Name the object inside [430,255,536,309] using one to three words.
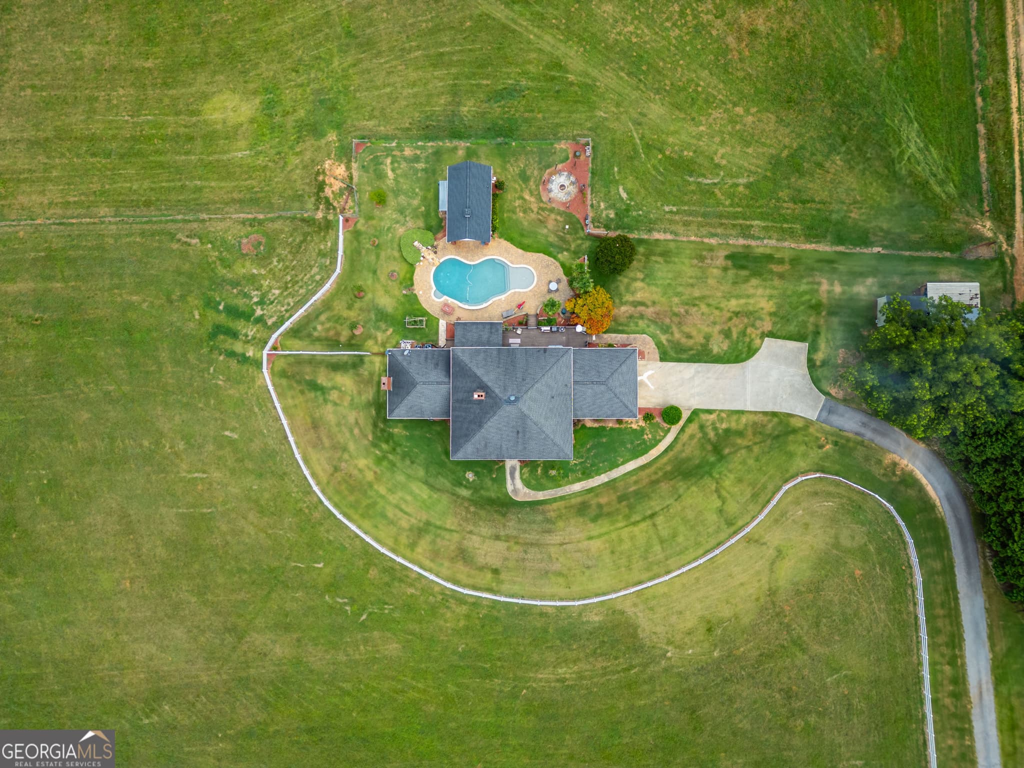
swimming pool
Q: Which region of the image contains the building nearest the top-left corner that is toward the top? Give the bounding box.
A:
[438,161,492,248]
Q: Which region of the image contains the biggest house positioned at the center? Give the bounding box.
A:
[381,321,638,460]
